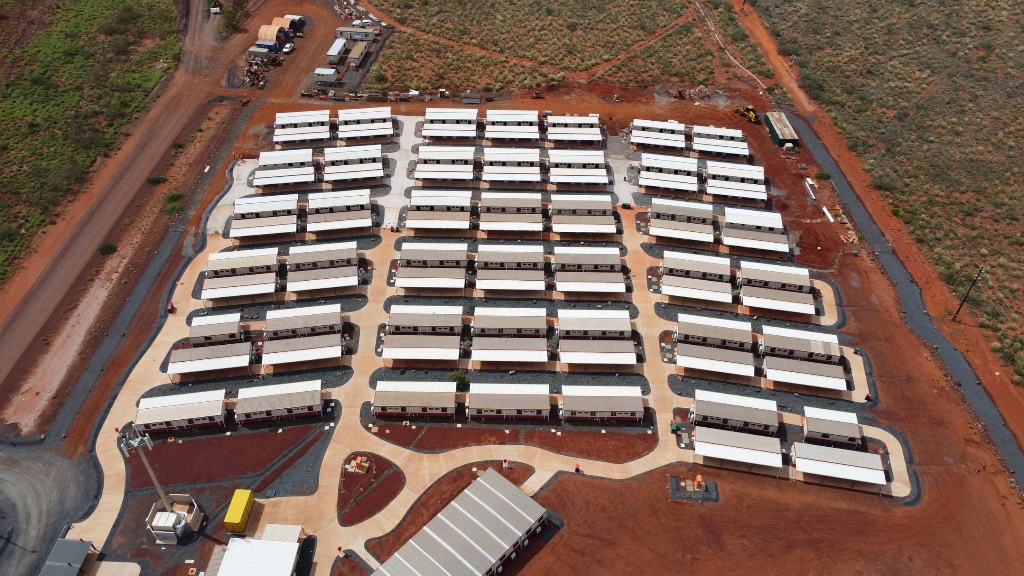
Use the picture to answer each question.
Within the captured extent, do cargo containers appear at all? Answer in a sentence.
Yes, looking at the shot, I can spot a cargo container.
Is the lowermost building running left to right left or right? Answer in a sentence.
You can find the lowermost building running left to right on the left side of the picture.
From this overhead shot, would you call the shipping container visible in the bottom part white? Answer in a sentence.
No, from above the shipping container visible in the bottom part looks yellow.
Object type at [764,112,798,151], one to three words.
shed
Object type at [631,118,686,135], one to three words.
building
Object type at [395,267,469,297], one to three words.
building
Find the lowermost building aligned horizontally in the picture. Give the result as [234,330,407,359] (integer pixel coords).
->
[212,538,301,576]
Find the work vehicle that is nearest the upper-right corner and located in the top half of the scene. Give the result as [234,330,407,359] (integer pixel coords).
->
[729,105,761,122]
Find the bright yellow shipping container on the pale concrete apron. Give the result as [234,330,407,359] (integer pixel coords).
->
[224,489,257,534]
